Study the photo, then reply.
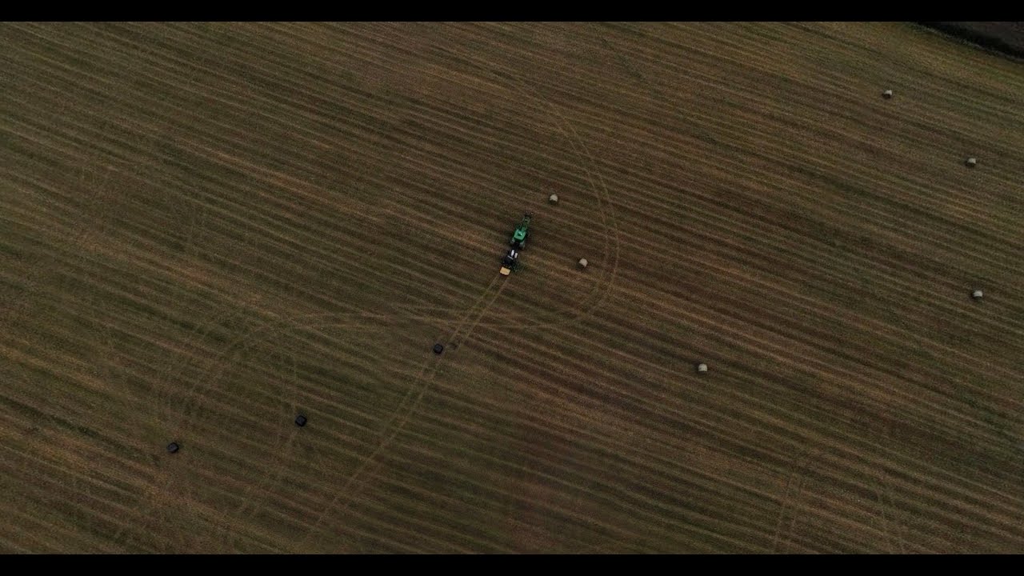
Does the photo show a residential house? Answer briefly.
No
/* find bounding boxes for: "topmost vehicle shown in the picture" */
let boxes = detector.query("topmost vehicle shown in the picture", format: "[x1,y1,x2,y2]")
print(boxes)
[510,214,533,250]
